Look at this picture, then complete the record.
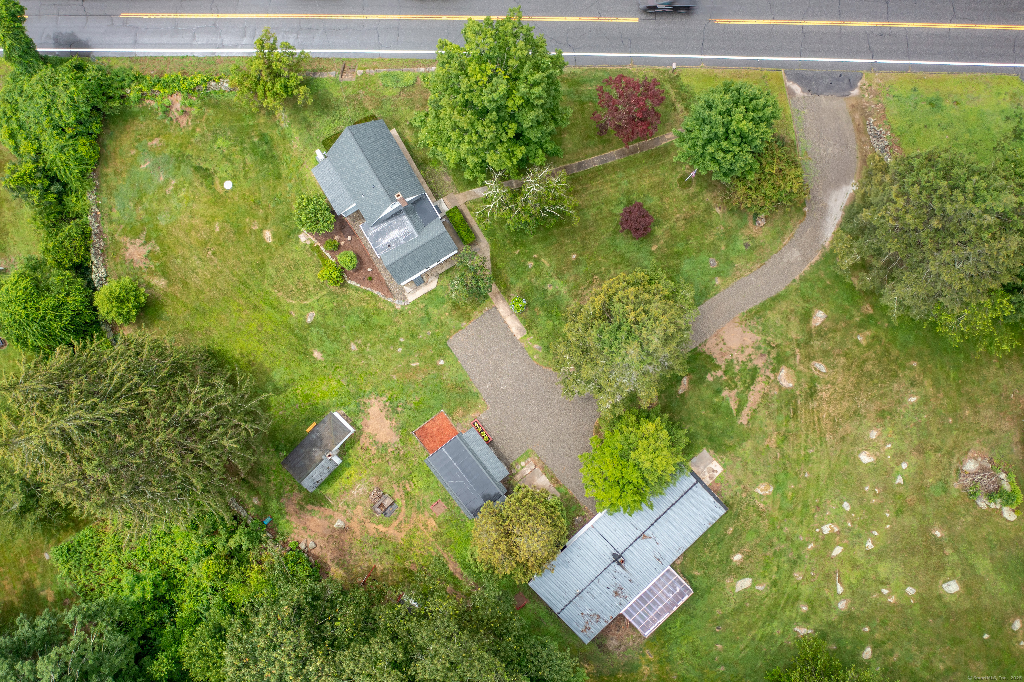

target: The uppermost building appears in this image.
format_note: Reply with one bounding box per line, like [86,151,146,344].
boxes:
[312,121,460,286]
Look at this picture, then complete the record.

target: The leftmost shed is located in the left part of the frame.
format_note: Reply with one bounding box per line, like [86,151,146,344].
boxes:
[281,411,357,492]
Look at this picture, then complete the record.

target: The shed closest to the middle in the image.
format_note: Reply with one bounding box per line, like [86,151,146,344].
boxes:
[424,428,510,522]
